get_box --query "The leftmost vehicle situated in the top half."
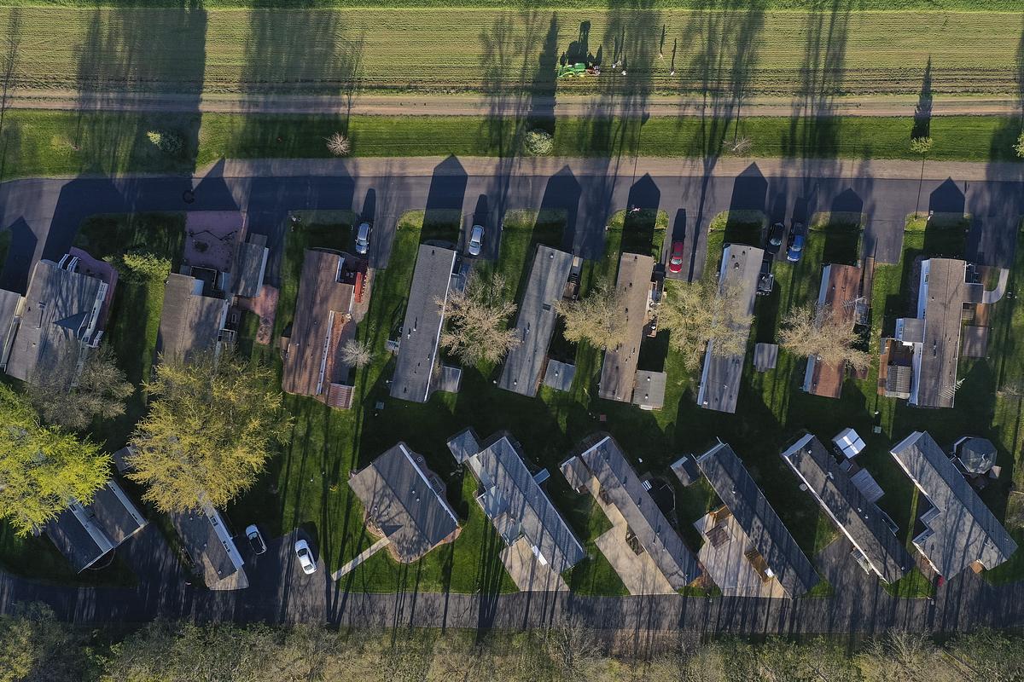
[354,222,372,256]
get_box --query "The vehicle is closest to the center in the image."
[467,224,484,257]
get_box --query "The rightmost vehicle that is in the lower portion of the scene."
[294,538,317,575]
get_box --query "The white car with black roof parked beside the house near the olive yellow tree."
[245,523,268,557]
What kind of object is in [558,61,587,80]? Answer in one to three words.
work vehicle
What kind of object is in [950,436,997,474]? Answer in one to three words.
gazebo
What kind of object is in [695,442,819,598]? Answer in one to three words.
house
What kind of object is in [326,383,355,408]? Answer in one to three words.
shed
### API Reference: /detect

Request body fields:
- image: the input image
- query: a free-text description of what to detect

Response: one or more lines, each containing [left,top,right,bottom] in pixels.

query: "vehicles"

[785,223,806,263]
[558,61,587,80]
[245,523,268,557]
[765,222,783,256]
[667,240,684,274]
[467,224,484,257]
[354,222,372,256]
[294,538,317,575]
